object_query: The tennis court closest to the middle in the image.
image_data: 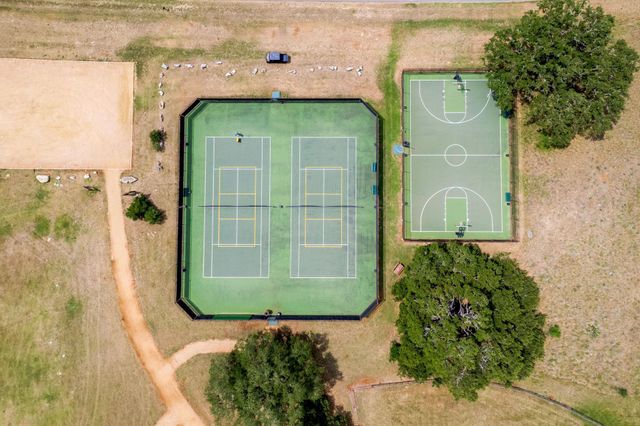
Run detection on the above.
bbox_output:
[290,136,357,279]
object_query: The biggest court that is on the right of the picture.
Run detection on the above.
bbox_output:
[404,72,510,239]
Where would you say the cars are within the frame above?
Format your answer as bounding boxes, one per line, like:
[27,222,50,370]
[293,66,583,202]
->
[266,49,289,64]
